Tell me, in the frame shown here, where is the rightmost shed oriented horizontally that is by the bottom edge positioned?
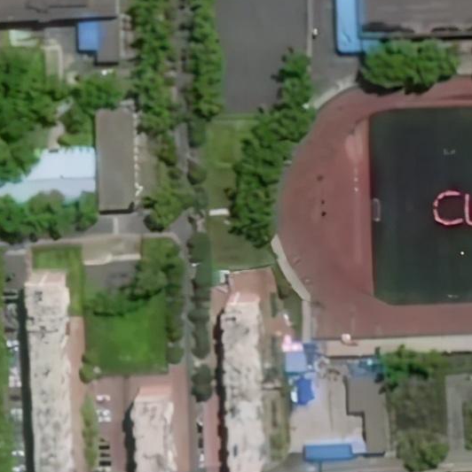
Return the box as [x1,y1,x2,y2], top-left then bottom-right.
[304,442,353,460]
